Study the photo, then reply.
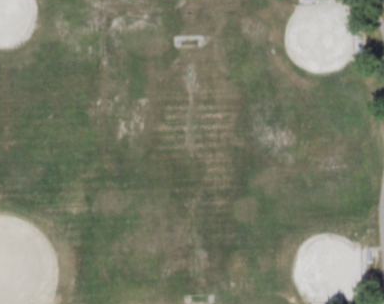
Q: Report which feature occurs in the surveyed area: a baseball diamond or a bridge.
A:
baseball diamond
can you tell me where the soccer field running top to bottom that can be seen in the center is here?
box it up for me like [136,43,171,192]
[146,35,242,304]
